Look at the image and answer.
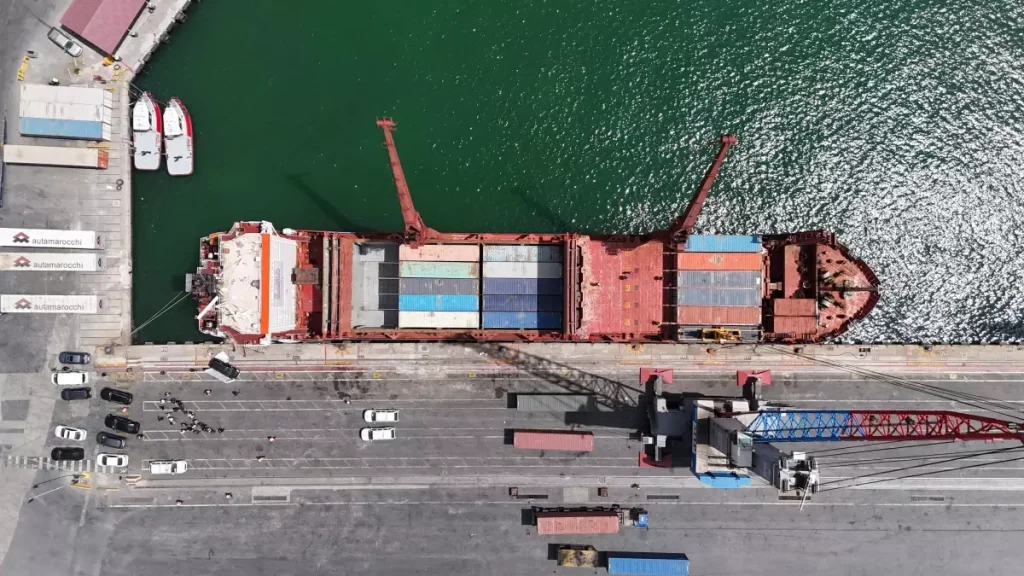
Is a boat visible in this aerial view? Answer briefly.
Yes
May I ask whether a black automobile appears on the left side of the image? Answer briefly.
Yes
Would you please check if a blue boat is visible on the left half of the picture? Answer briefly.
No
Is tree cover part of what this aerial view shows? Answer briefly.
No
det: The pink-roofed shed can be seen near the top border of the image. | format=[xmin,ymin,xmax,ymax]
[61,0,153,56]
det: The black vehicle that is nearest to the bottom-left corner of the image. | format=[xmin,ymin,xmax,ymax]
[53,446,87,460]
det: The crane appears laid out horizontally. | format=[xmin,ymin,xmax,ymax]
[639,333,1024,514]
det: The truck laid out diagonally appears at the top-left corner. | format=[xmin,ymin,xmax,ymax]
[50,28,85,58]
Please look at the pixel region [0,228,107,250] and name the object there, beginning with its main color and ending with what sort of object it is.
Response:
white trailer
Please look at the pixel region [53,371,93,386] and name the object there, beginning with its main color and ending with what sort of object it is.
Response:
white vehicle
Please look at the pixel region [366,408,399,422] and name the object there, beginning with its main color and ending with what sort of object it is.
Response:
white car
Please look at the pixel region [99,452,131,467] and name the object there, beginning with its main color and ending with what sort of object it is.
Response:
white car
